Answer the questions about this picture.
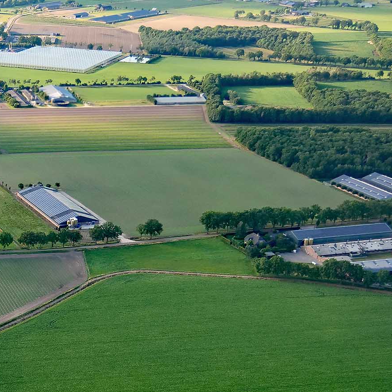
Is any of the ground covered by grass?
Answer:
Yes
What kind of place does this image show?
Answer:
farmland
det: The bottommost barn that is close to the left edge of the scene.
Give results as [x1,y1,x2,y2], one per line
[16,185,100,229]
